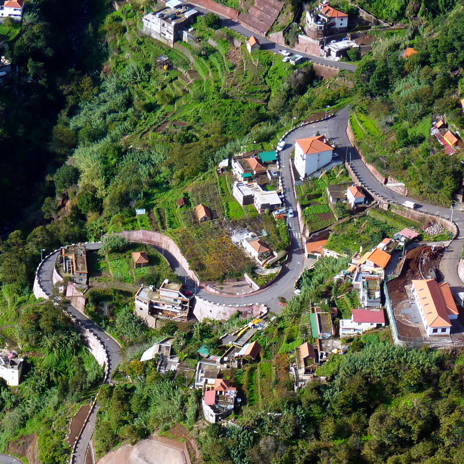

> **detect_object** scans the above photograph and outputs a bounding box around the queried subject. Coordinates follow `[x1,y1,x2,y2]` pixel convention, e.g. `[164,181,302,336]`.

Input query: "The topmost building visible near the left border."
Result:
[0,0,26,24]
